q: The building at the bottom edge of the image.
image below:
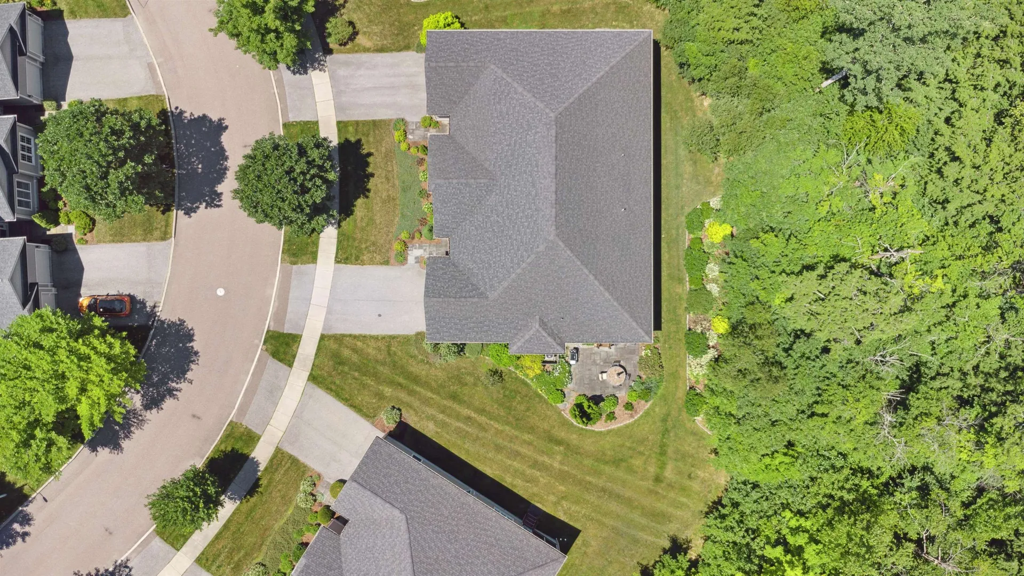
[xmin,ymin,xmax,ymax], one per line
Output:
[292,432,569,576]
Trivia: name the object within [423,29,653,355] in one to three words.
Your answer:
house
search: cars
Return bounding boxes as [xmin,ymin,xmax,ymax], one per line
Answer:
[80,295,133,318]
